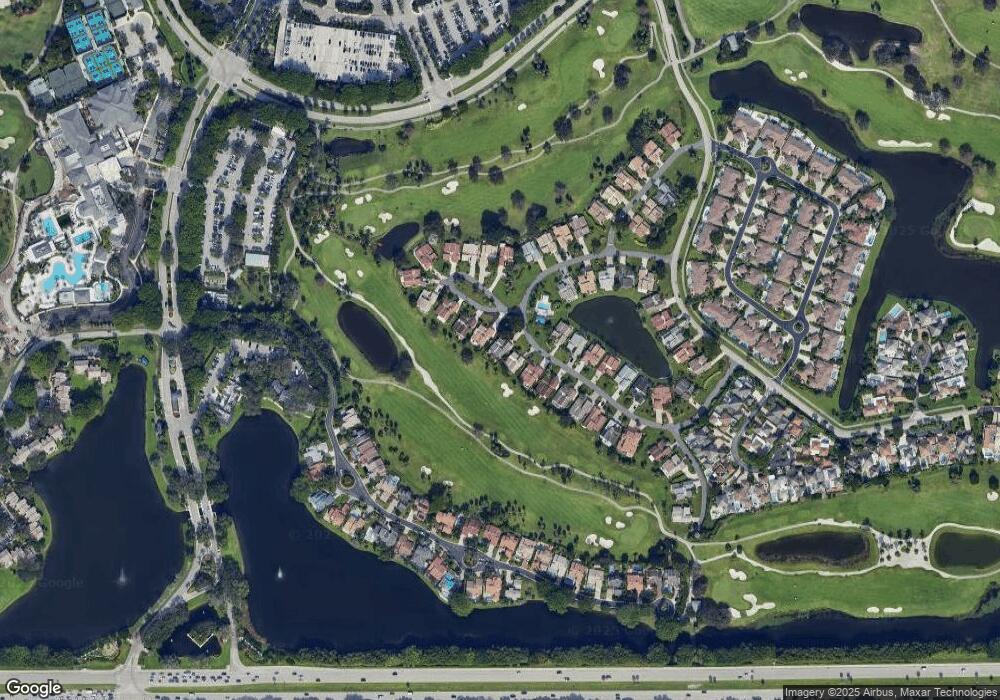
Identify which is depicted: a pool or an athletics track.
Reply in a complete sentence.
I can see a pool in this picture.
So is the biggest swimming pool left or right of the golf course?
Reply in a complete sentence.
The biggest swimming pool appears to the left of the golf course in this view.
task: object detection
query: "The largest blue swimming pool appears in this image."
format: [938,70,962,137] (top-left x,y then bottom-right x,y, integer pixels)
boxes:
[40,250,89,295]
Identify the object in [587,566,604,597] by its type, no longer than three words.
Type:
house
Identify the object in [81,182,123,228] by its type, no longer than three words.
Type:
building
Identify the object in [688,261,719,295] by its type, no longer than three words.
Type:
house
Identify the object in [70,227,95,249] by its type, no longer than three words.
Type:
swimming pool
